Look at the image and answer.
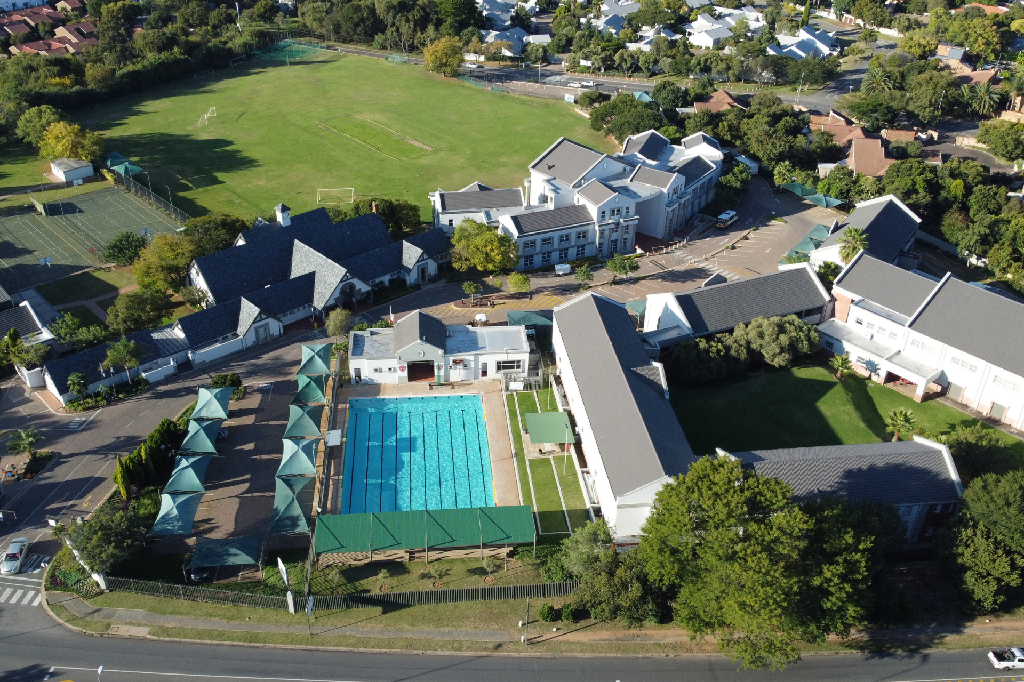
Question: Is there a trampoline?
No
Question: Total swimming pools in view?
1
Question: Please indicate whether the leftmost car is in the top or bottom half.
bottom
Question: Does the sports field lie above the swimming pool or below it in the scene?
above it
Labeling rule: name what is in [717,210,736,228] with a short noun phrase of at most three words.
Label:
vehicle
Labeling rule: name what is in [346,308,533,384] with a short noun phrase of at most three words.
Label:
building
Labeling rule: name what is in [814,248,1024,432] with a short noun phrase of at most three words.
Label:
building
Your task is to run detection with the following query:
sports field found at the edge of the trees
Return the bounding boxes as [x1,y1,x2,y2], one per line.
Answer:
[0,51,624,249]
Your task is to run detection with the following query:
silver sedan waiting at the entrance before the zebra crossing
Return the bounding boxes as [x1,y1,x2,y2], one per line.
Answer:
[0,540,32,574]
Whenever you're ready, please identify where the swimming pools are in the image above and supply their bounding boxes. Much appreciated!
[339,395,496,514]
